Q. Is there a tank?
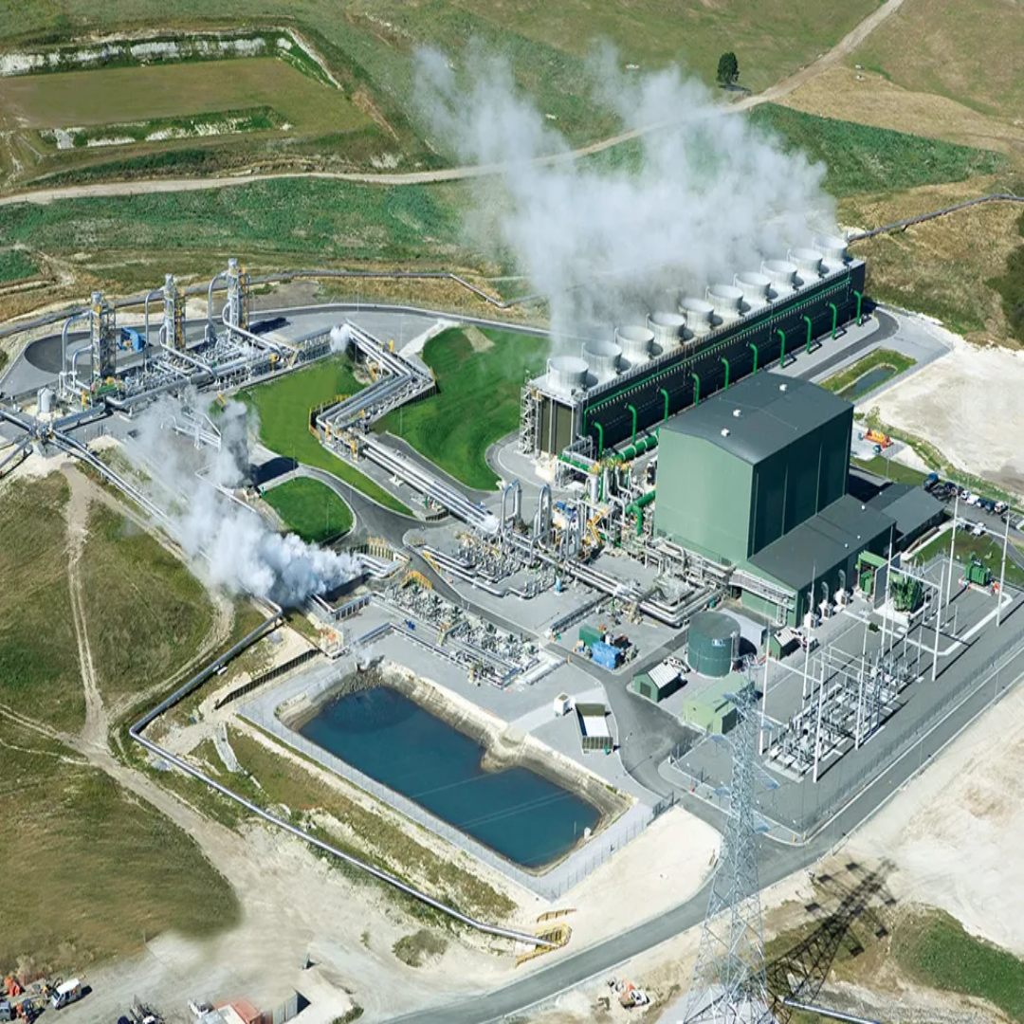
Yes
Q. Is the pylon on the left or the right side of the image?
right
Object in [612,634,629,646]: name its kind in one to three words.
vehicle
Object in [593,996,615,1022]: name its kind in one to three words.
work vehicle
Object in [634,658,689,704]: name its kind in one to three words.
shed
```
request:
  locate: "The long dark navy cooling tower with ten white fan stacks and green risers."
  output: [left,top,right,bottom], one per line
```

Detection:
[518,234,868,463]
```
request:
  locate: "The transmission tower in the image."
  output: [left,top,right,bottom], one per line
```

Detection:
[693,682,790,1024]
